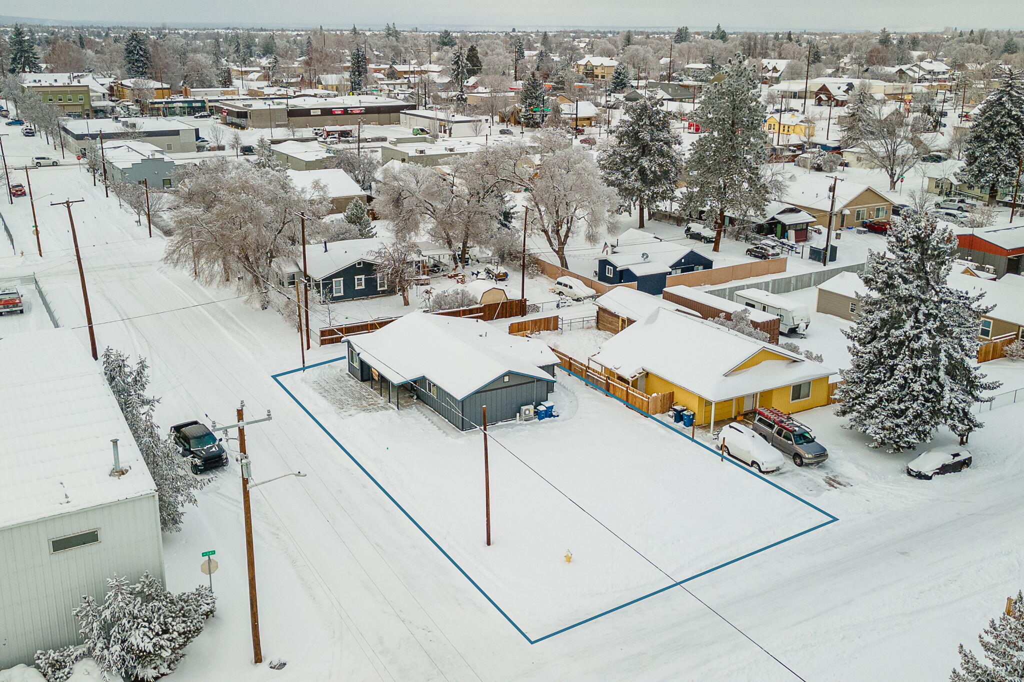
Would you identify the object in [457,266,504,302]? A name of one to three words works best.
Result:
shed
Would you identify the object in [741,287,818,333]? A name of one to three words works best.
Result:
vehicle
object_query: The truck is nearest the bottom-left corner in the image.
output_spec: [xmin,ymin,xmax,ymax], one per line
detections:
[173,420,230,469]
